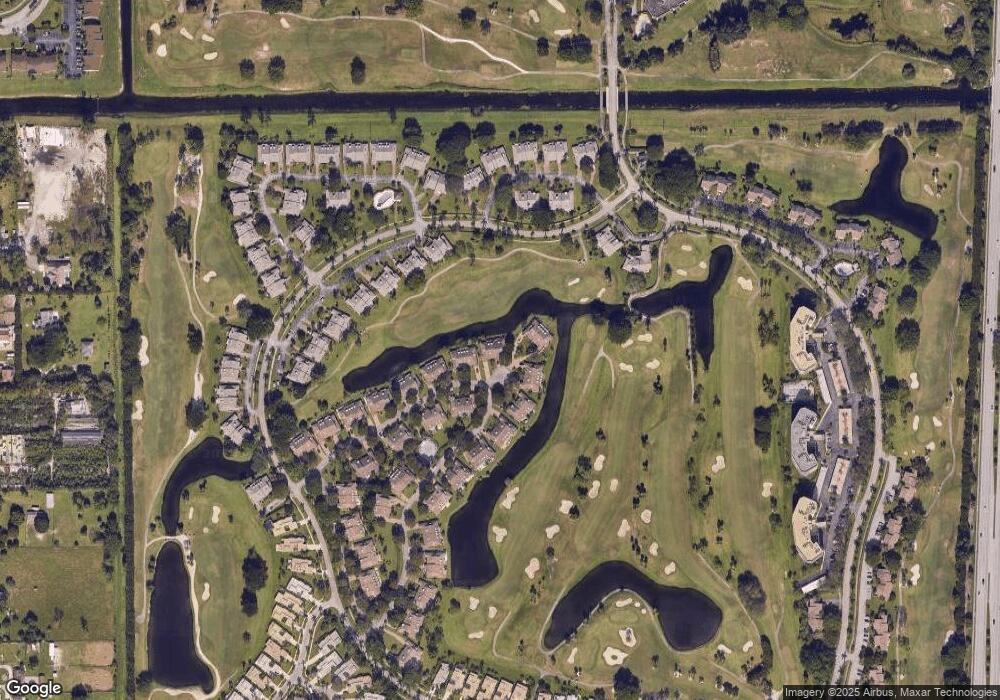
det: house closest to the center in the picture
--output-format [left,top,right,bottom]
[479,337,504,359]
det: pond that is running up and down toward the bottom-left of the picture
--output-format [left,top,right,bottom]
[148,540,215,694]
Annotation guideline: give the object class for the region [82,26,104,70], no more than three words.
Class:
building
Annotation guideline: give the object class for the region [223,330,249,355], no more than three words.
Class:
house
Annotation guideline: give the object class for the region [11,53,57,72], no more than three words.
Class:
building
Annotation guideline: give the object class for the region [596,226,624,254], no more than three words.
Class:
house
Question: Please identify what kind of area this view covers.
golf course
